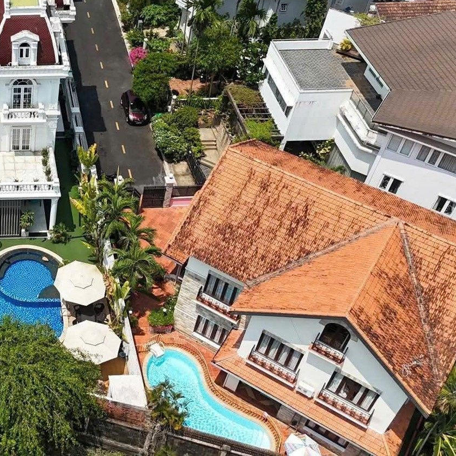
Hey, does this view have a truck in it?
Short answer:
No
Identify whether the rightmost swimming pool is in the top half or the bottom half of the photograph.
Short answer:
bottom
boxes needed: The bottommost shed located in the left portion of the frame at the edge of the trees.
[106,375,147,422]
